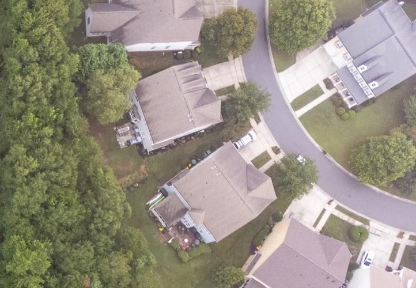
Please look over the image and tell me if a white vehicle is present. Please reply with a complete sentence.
Yes, the photo shows a white vehicle.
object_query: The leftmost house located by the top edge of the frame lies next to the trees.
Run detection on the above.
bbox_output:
[85,0,204,51]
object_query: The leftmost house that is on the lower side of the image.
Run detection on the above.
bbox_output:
[151,141,278,243]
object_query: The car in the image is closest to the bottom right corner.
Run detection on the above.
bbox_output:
[358,247,376,268]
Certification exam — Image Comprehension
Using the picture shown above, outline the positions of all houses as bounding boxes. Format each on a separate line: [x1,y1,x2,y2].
[237,217,353,288]
[151,141,278,243]
[346,265,416,288]
[323,0,416,107]
[127,61,224,153]
[85,0,204,51]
